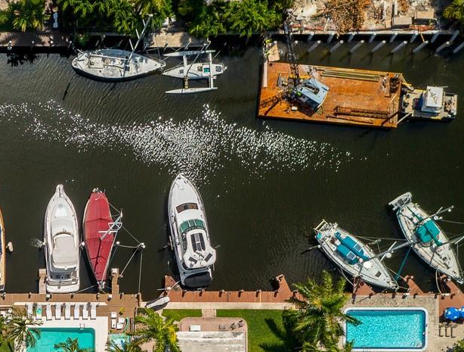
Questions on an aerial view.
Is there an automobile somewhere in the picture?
No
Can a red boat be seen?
Yes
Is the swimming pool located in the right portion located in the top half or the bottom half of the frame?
bottom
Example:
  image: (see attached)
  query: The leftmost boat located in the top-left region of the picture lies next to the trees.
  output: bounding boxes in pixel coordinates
[72,14,165,84]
